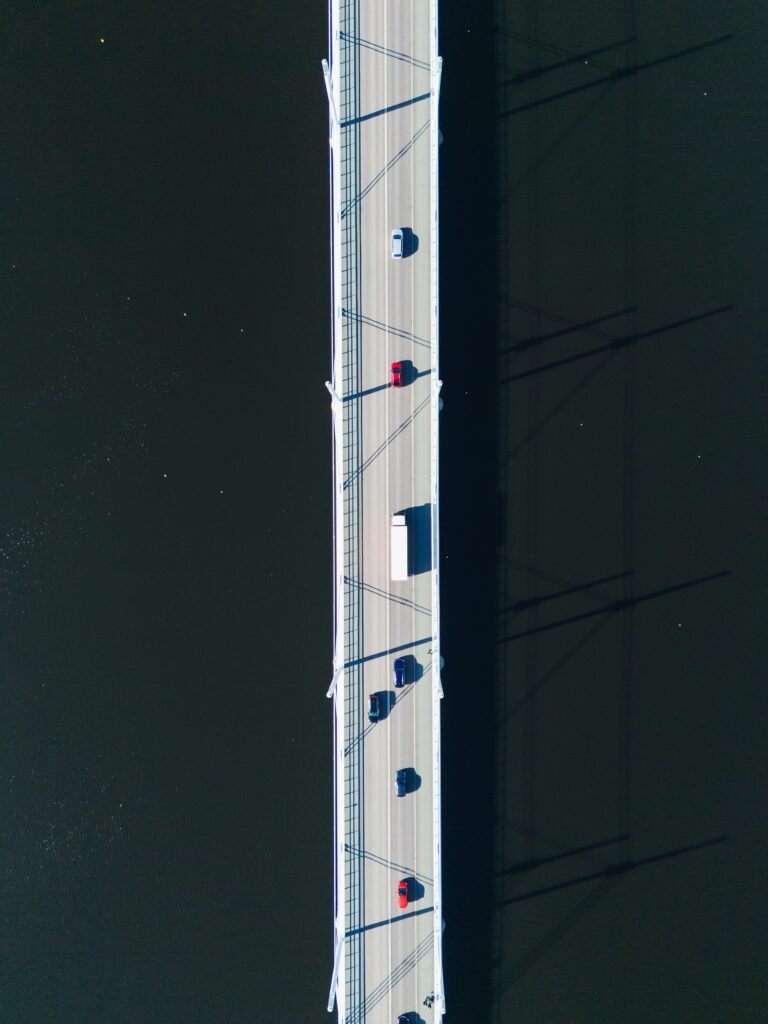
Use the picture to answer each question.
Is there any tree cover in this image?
No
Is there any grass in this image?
No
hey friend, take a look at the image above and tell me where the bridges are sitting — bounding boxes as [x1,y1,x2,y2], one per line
[323,0,445,1024]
